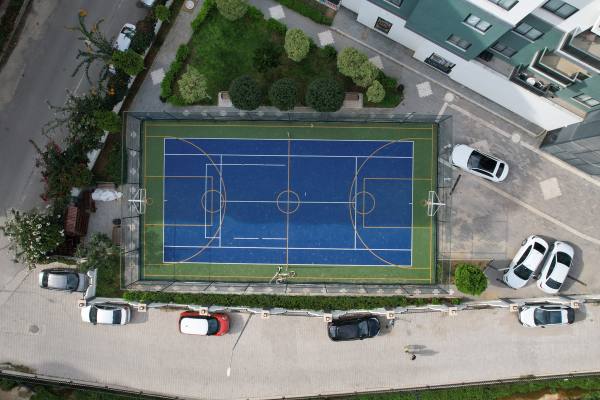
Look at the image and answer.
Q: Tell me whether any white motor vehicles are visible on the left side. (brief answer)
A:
Yes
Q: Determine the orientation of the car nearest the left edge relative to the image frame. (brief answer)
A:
horizontally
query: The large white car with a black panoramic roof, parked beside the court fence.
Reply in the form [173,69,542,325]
[450,143,511,182]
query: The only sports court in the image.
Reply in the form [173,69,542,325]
[141,121,437,283]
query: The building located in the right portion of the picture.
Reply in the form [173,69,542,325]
[339,0,600,182]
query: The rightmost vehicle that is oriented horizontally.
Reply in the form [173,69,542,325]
[517,303,575,330]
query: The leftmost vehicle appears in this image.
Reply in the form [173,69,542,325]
[39,269,88,295]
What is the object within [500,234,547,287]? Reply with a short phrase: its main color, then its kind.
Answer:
white car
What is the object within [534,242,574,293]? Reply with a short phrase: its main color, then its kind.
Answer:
white car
